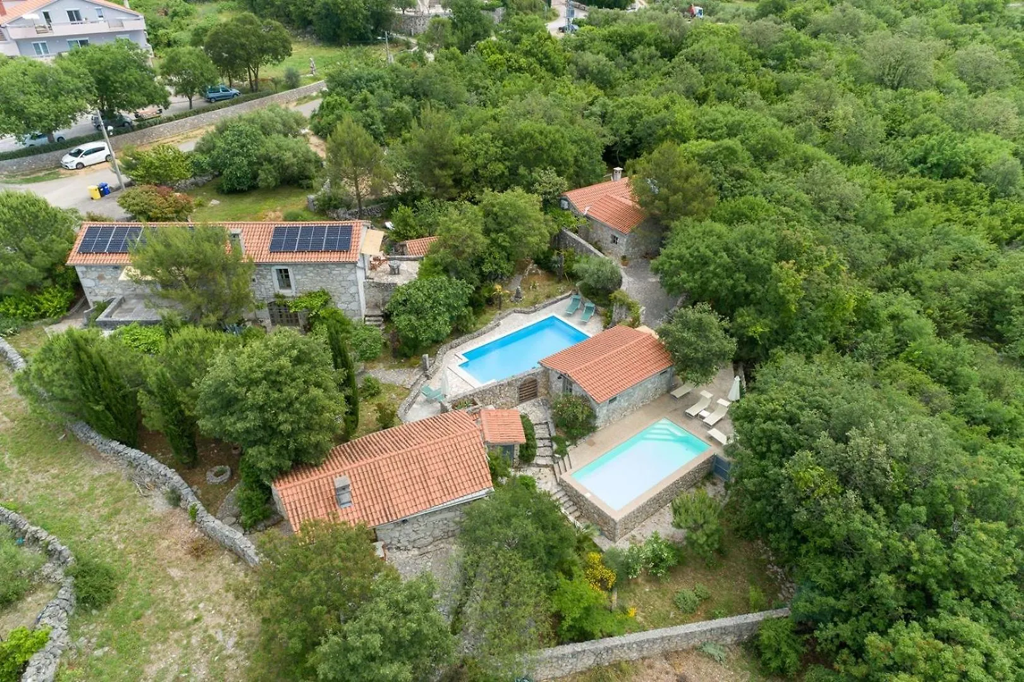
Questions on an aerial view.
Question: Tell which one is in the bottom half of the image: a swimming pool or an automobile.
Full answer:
It is a swimming pool that can be seen in the bottom half of the image.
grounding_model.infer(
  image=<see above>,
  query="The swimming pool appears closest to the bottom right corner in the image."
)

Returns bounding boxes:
[558,410,718,547]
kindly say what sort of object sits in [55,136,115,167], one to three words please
car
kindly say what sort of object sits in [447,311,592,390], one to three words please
swimming pool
